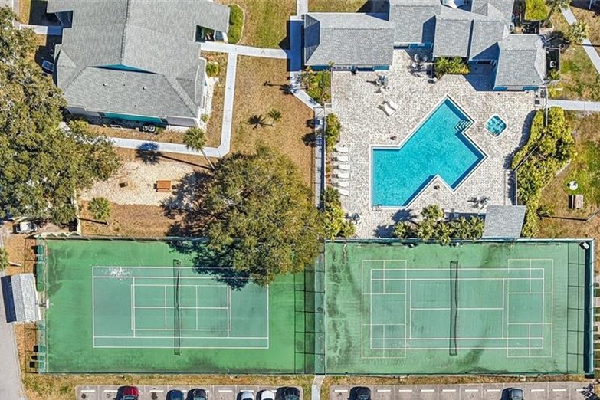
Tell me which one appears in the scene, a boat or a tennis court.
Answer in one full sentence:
Of the two, only a tennis court appears.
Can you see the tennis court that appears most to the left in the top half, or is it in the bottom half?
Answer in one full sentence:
The tennis court that appears most to the left sits in the bottom half of the picture.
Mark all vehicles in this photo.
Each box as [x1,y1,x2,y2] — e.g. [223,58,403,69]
[260,389,274,400]
[241,390,255,400]
[170,390,184,400]
[353,387,370,400]
[284,387,298,400]
[123,387,139,400]
[507,387,525,400]
[190,389,206,400]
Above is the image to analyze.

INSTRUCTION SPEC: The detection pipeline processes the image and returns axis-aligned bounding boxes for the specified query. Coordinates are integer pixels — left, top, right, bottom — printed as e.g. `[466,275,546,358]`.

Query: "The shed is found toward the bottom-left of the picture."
[11,273,44,322]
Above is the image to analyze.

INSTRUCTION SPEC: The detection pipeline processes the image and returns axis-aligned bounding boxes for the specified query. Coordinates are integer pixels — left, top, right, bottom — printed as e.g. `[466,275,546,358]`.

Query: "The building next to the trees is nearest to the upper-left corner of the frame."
[49,0,231,129]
